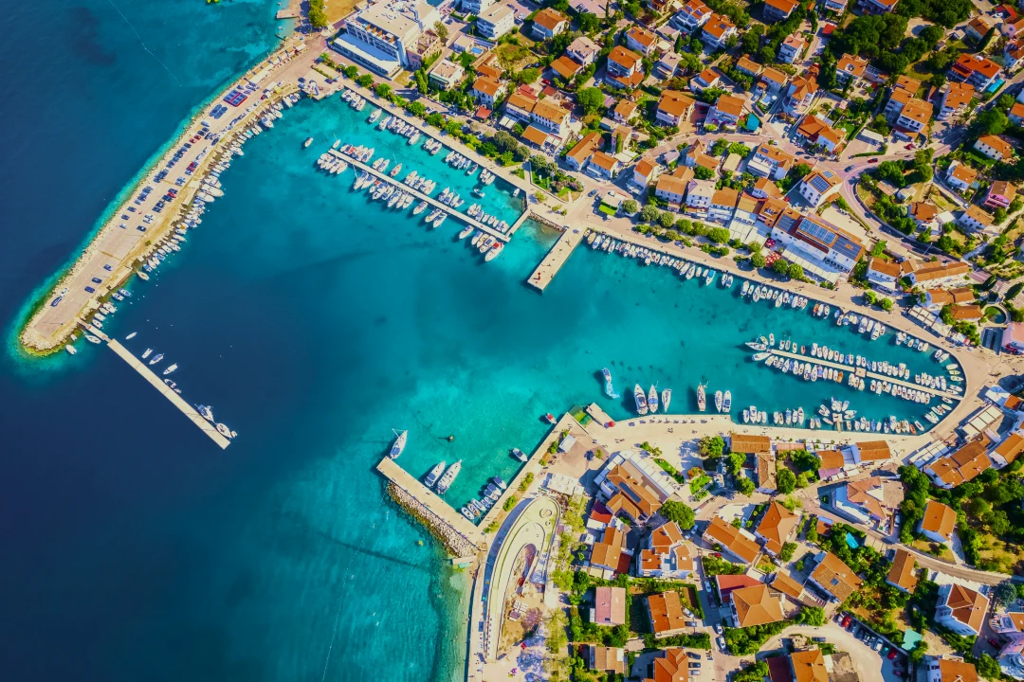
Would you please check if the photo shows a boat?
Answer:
Yes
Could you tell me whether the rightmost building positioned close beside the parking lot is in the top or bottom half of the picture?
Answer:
top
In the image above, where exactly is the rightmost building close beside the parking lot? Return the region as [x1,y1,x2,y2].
[333,0,443,81]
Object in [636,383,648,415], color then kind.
white boat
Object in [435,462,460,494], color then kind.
white boat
